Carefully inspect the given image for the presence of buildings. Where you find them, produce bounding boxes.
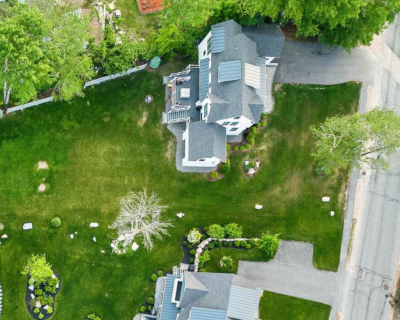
[142,267,263,320]
[161,18,291,164]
